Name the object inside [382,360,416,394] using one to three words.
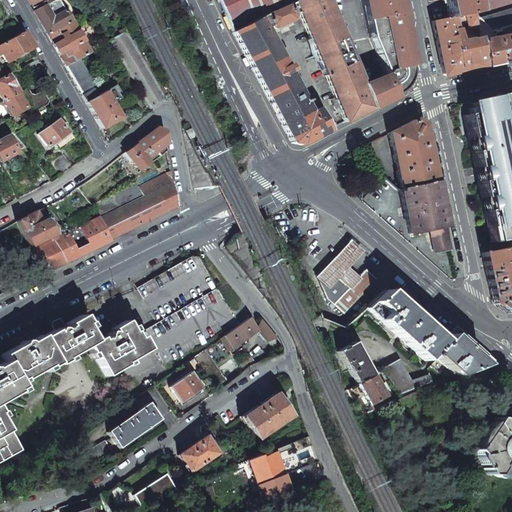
shed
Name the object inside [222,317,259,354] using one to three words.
house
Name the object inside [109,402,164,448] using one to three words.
building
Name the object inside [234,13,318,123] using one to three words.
house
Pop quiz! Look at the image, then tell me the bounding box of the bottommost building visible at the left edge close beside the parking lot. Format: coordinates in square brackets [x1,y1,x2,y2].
[0,314,158,463]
